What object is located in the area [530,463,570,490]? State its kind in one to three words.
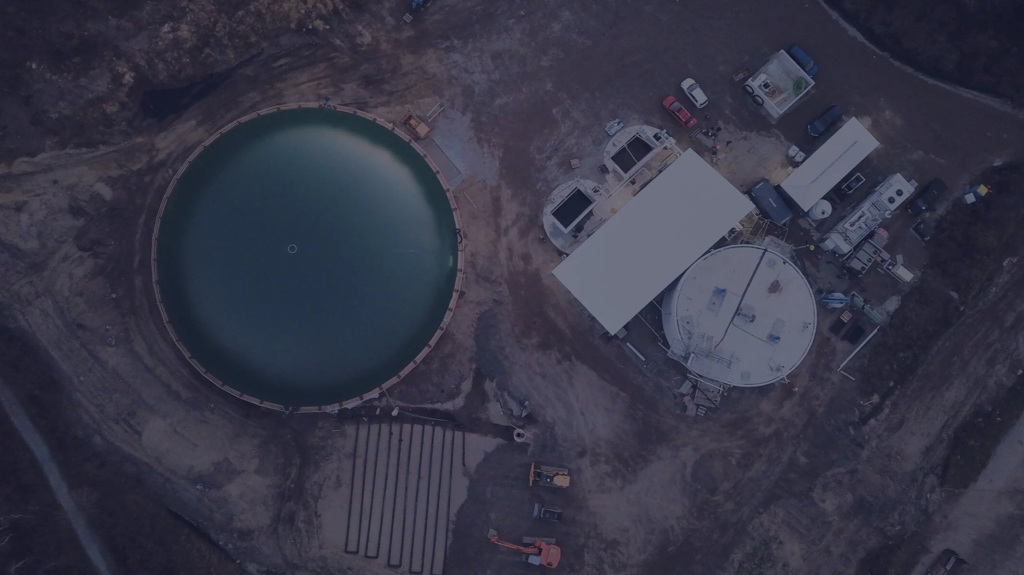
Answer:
work vehicle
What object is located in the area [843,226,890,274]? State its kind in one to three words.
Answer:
truck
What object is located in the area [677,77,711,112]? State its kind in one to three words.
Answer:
car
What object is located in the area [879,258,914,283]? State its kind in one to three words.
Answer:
work vehicle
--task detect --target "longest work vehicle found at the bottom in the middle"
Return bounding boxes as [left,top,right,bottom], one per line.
[488,528,561,568]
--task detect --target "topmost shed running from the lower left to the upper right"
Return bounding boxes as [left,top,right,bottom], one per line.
[773,116,880,211]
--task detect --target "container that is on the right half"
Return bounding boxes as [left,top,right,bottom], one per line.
[811,172,918,259]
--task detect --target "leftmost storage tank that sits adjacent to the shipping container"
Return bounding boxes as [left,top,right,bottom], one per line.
[662,235,817,387]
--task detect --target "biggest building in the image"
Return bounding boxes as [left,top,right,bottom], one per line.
[552,147,756,336]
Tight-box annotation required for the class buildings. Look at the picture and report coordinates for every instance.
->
[552,147,756,336]
[773,116,880,211]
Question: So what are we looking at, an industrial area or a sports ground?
industrial area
